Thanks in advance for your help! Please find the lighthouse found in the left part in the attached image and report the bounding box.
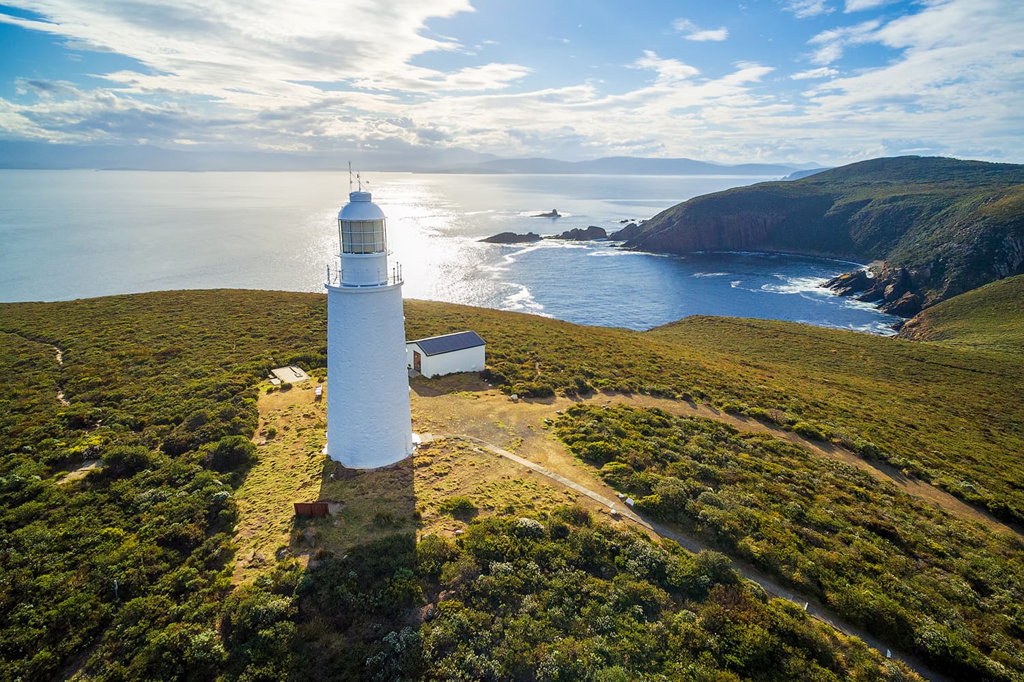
[320,162,422,471]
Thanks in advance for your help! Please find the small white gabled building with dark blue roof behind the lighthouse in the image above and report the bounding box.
[408,335,489,378]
